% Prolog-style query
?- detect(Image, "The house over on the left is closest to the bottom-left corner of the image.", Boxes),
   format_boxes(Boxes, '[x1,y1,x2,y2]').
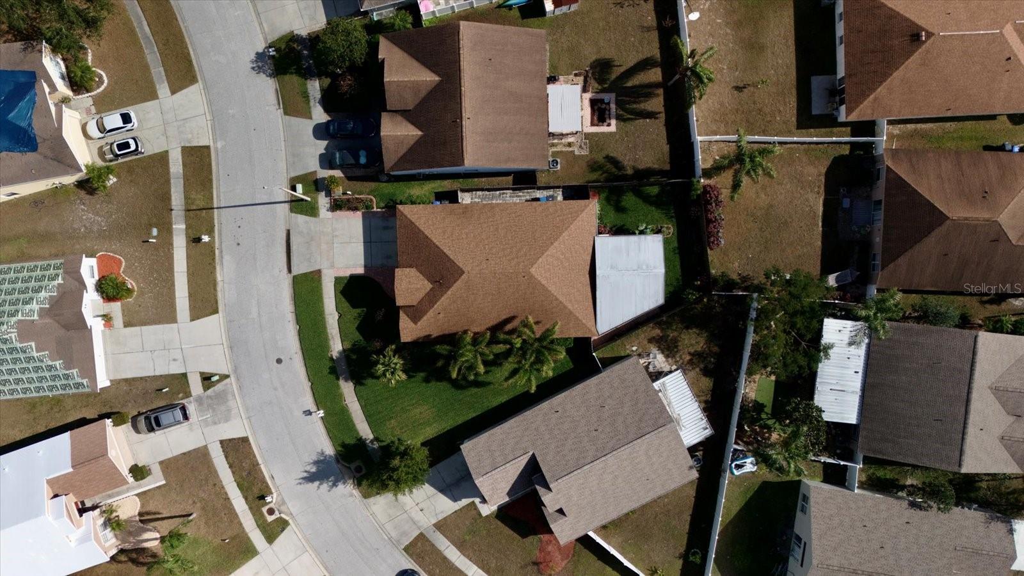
[0,418,137,576]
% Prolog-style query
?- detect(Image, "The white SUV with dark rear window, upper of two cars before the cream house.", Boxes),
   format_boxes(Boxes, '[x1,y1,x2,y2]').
[88,111,142,141]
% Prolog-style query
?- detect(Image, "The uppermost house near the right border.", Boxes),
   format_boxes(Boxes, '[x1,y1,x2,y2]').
[833,0,1024,123]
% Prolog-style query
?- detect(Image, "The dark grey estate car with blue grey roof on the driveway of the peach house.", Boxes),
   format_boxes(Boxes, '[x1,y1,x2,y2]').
[136,400,194,435]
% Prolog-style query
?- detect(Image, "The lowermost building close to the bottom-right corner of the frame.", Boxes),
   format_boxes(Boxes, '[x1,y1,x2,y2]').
[790,481,1024,576]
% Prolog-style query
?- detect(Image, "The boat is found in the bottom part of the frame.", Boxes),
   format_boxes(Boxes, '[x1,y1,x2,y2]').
[729,456,756,474]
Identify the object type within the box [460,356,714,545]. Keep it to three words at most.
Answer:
house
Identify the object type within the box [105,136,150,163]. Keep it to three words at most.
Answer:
car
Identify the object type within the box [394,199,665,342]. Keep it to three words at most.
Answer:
house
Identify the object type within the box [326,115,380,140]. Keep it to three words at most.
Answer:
car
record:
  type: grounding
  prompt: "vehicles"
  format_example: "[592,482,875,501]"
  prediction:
[105,136,150,163]
[326,115,380,140]
[88,111,142,141]
[136,400,194,435]
[330,145,382,170]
